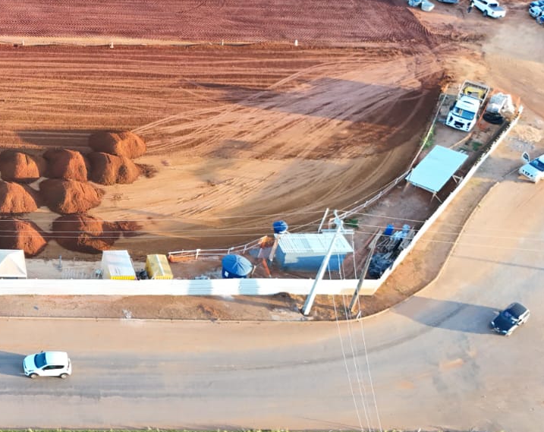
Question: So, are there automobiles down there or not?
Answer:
Yes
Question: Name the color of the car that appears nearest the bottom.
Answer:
white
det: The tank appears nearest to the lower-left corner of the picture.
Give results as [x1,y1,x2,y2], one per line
[222,253,254,280]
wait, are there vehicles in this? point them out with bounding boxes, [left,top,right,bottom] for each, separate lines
[467,0,513,20]
[491,304,535,338]
[450,69,488,135]
[521,154,544,185]
[530,0,544,8]
[531,5,544,20]
[23,355,71,381]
